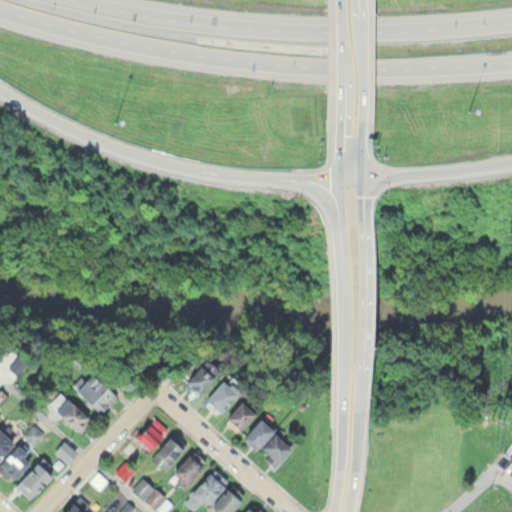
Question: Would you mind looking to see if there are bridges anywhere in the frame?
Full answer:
Yes, there's a bridge here.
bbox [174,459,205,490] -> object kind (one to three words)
house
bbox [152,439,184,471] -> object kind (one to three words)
house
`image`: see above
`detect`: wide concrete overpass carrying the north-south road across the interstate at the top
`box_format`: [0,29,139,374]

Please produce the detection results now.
[327,0,376,100]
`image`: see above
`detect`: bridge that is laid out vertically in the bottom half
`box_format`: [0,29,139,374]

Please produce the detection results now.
[328,244,377,392]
